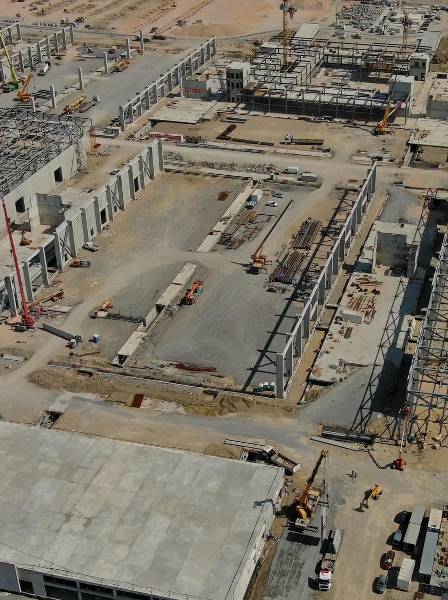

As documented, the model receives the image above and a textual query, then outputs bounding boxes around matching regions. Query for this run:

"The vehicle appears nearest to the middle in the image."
[183,276,204,302]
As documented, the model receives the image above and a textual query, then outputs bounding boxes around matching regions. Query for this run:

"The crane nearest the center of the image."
[245,199,294,271]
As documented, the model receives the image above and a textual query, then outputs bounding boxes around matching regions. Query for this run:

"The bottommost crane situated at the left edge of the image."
[3,199,46,333]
